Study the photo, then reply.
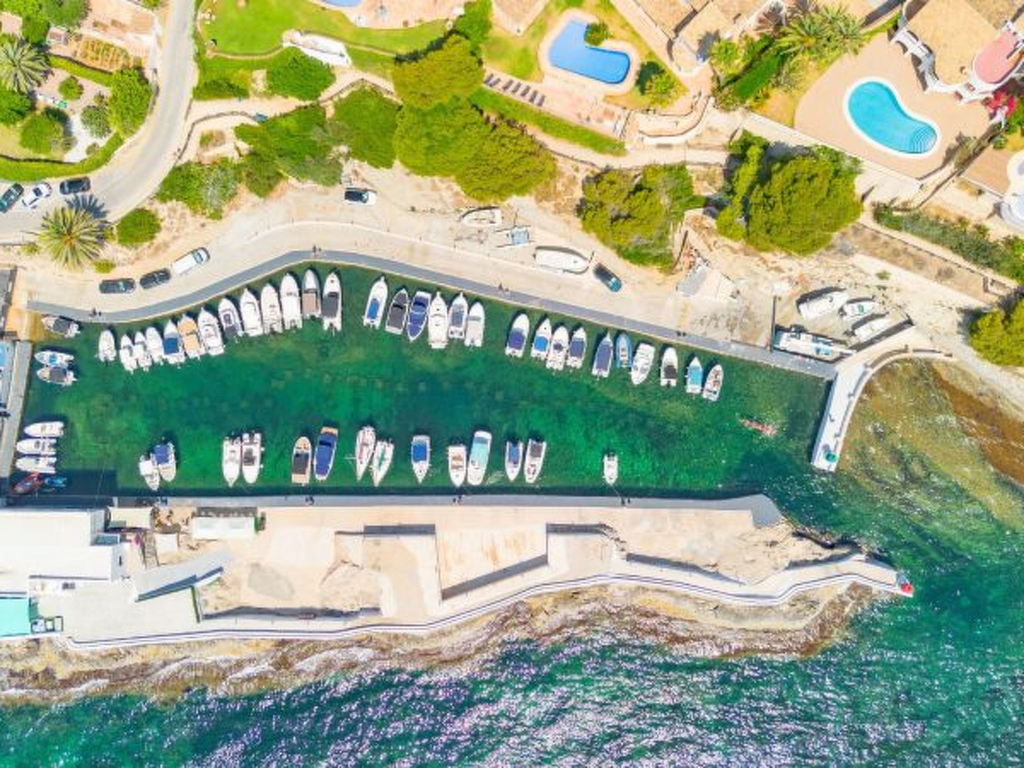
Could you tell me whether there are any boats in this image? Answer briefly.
Yes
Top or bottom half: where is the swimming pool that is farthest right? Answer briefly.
top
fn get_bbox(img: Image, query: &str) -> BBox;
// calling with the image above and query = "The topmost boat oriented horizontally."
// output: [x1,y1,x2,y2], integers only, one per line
[463,210,500,229]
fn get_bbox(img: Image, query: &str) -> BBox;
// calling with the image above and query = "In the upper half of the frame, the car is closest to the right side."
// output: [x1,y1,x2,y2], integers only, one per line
[590,264,623,293]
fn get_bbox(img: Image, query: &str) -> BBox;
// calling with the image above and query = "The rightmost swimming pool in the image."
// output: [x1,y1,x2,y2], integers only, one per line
[844,78,941,159]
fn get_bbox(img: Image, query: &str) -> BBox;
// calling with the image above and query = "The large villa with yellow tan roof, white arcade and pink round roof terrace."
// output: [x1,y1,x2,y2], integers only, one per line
[883,0,1024,105]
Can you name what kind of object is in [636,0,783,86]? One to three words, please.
house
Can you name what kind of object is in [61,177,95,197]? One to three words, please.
car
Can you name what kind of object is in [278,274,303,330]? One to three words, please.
boat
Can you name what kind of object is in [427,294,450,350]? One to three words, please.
boat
